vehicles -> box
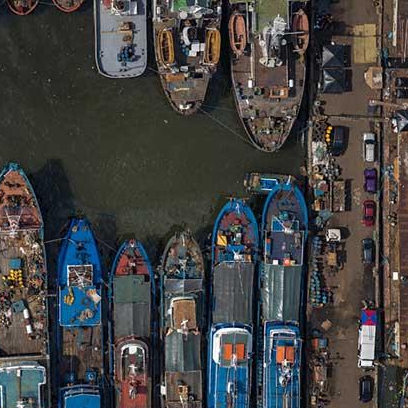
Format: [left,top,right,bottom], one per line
[364,132,377,161]
[359,376,374,403]
[362,239,375,264]
[333,126,348,156]
[364,167,378,193]
[363,200,376,226]
[359,316,379,370]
